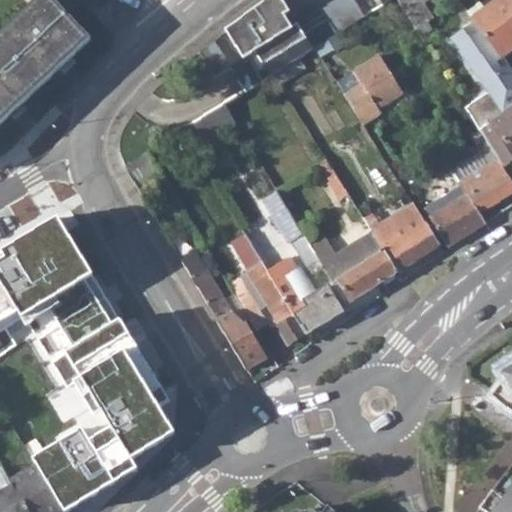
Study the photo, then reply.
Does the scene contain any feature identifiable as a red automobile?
No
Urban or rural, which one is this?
urban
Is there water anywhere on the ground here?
No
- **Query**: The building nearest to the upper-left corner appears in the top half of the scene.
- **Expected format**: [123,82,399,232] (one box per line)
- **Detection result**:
[0,0,92,129]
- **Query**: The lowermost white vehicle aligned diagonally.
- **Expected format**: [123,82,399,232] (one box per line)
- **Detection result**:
[368,410,396,432]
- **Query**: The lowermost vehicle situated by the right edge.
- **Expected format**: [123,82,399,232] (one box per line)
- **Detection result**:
[474,305,496,323]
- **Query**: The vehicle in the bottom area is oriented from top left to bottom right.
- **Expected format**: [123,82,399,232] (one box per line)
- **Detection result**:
[252,404,270,424]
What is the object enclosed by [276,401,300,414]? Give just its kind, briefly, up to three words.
vehicle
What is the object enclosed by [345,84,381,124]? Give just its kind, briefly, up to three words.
house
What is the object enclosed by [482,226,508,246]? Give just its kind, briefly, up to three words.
vehicle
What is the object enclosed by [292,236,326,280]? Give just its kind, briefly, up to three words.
shed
